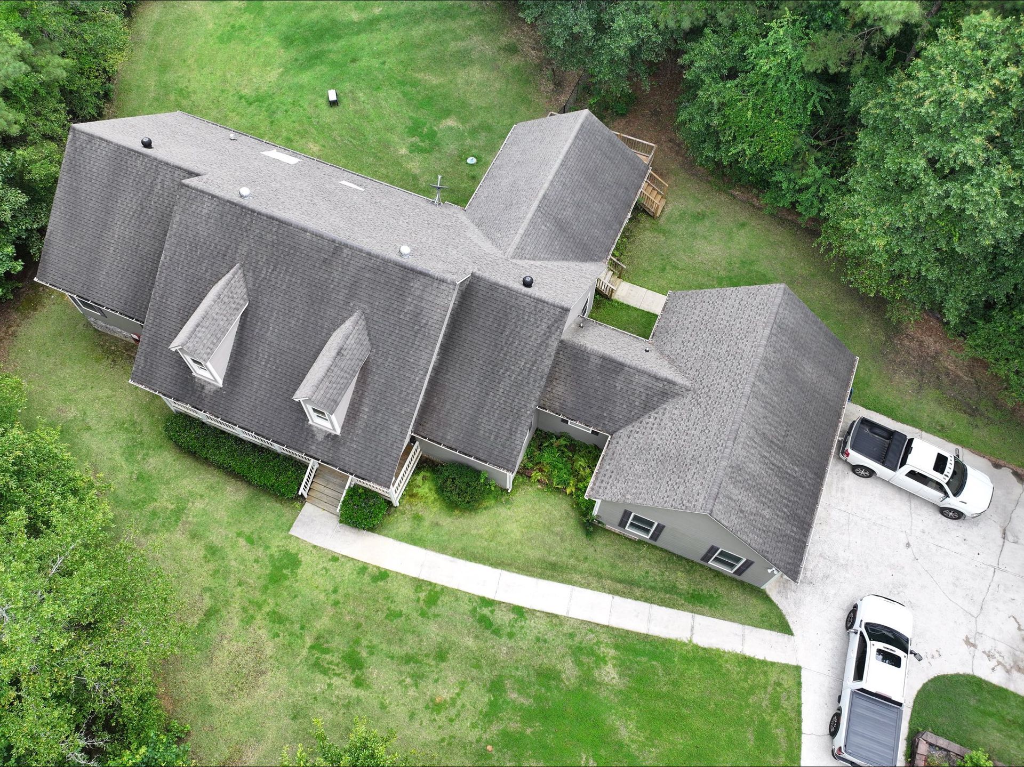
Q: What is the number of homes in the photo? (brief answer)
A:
one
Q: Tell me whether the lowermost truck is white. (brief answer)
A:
Yes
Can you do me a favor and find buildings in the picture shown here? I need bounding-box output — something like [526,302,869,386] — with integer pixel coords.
[34,109,860,590]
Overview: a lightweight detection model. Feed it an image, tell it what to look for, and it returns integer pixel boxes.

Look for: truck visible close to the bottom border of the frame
[831,594,931,767]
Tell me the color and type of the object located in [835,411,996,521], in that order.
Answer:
white truck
